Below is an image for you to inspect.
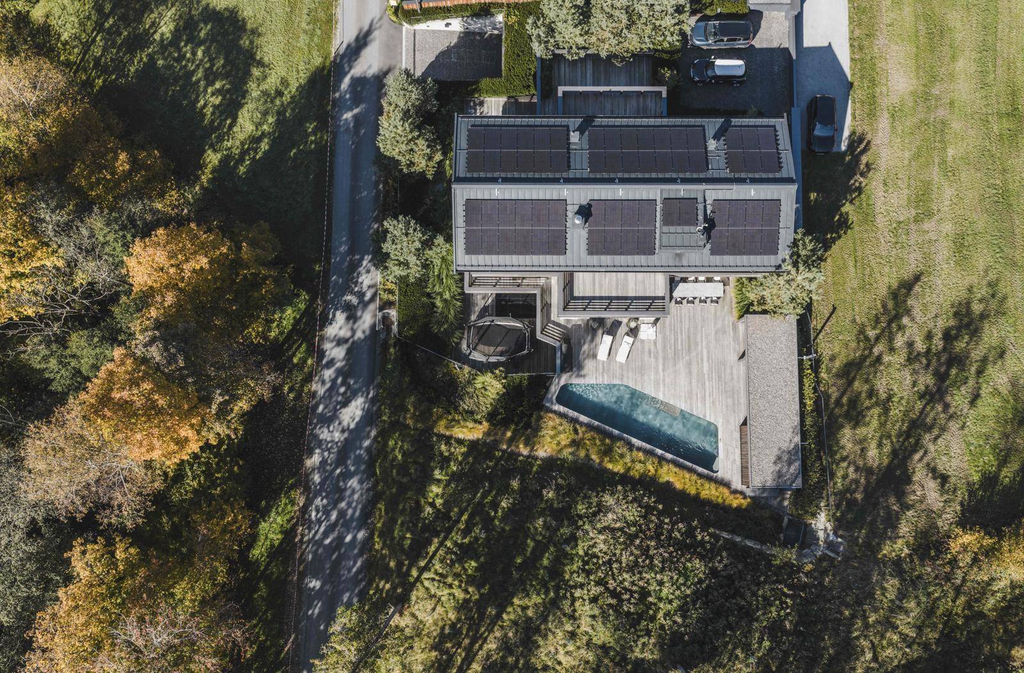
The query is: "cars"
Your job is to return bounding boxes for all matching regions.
[688,58,746,88]
[805,96,837,155]
[689,19,753,52]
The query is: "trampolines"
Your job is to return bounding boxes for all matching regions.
[465,318,532,362]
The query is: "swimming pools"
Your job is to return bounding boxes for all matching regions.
[557,384,717,473]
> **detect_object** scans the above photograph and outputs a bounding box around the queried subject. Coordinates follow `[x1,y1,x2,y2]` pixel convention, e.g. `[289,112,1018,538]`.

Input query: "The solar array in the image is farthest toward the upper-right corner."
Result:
[725,127,781,173]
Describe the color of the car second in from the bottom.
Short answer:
black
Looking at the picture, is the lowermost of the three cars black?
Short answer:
Yes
